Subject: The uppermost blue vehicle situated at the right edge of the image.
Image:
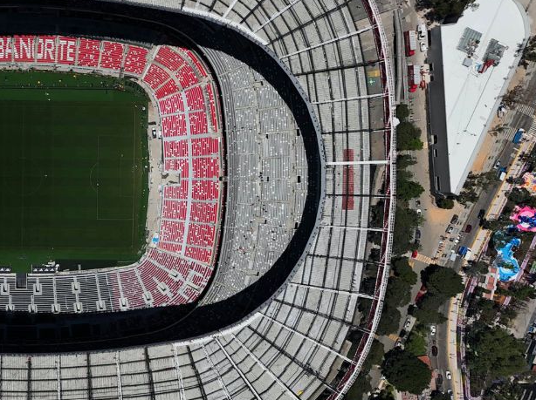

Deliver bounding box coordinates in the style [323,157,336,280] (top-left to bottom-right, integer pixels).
[512,128,526,144]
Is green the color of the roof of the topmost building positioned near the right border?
No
